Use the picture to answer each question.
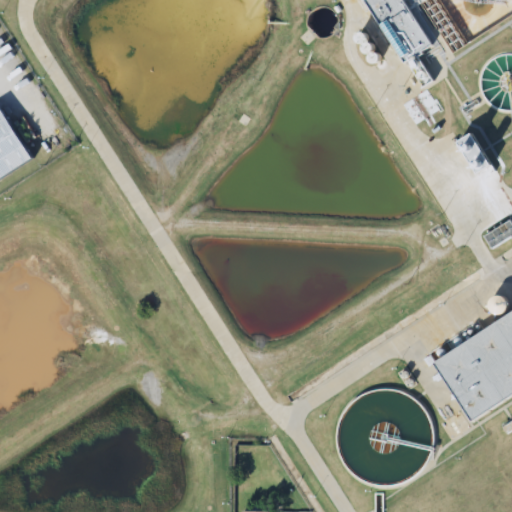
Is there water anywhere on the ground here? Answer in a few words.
Yes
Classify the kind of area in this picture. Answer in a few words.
industrial area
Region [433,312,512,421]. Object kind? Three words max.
building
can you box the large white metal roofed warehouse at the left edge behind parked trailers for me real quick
[0,108,32,179]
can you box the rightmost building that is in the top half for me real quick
[453,132,497,176]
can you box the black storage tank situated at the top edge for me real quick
[306,6,346,38]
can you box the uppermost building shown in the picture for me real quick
[362,0,432,58]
